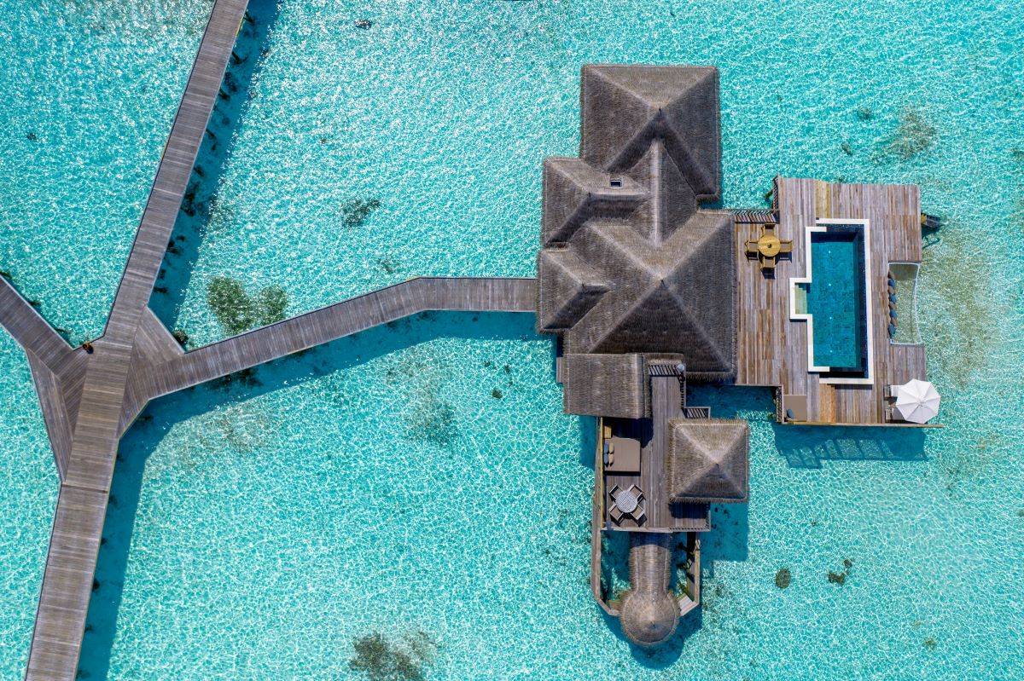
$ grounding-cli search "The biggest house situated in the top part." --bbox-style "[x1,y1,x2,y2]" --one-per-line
[534,63,738,421]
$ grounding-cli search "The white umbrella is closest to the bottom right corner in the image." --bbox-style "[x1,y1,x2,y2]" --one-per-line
[890,378,939,424]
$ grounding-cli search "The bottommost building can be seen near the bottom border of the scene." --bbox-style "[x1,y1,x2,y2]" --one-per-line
[618,531,683,652]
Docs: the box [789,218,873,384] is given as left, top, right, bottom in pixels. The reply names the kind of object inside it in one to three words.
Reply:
swimming pool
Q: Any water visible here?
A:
Yes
